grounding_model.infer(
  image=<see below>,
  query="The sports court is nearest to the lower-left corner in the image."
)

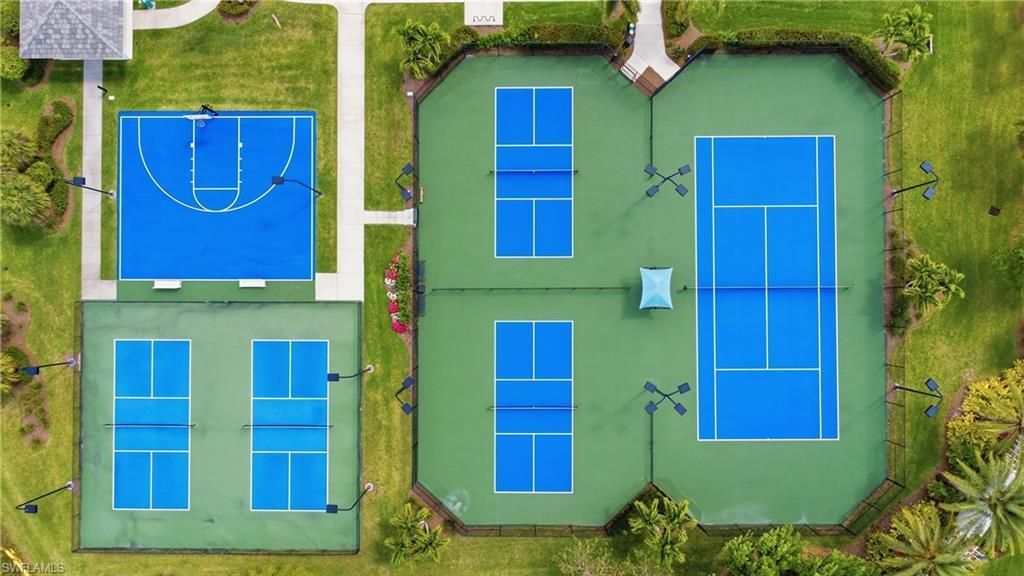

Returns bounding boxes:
[112,340,191,510]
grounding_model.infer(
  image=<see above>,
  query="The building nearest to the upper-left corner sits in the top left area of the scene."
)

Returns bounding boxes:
[19,0,133,61]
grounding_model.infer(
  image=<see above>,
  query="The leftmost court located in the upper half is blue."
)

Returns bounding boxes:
[115,110,317,280]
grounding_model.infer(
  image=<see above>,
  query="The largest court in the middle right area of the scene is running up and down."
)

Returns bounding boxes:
[696,137,839,440]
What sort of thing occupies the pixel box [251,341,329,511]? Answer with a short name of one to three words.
sports court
